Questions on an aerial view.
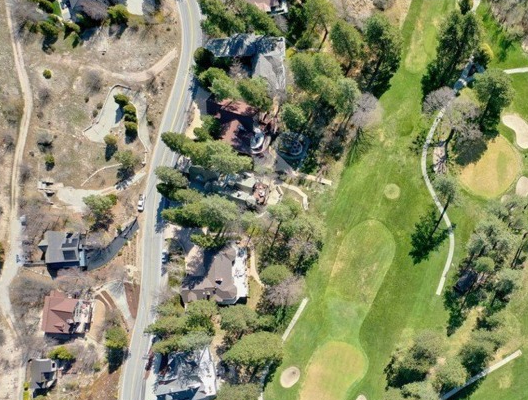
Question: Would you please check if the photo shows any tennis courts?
No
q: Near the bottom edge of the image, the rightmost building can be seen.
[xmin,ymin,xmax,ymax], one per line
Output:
[154,346,219,400]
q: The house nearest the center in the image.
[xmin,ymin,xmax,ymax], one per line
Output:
[190,165,271,209]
